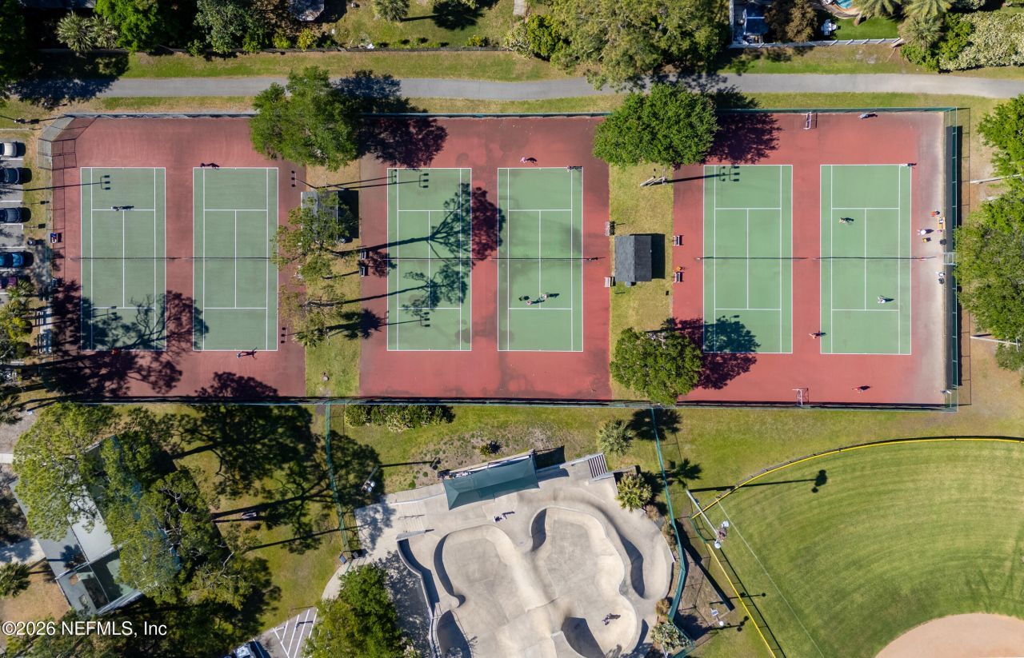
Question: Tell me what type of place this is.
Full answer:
This image shows a sports ground.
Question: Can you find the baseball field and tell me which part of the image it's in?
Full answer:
The baseball field sits in the bottom right section of the image.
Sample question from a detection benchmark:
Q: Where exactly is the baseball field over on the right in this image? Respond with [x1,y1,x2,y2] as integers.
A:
[693,440,1024,658]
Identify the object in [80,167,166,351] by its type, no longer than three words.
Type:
tennis court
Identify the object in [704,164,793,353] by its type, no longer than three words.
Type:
tennis court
